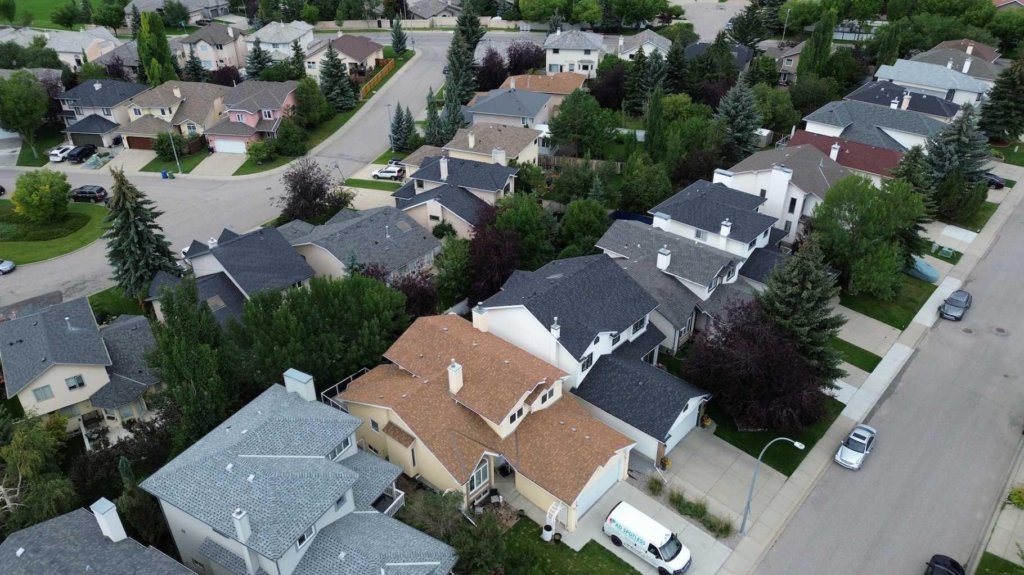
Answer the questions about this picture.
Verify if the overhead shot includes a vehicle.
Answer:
Yes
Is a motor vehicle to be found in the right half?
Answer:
Yes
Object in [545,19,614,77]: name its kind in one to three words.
house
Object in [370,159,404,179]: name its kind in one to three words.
car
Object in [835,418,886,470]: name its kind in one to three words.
car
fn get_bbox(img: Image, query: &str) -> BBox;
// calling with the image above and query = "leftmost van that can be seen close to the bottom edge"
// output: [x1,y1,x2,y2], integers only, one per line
[594,501,694,575]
